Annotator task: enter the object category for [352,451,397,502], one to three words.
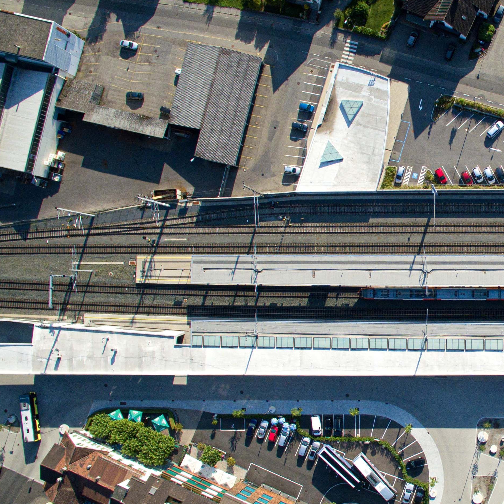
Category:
bus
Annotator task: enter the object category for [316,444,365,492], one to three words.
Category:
bus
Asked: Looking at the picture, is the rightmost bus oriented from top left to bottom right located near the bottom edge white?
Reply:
Yes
